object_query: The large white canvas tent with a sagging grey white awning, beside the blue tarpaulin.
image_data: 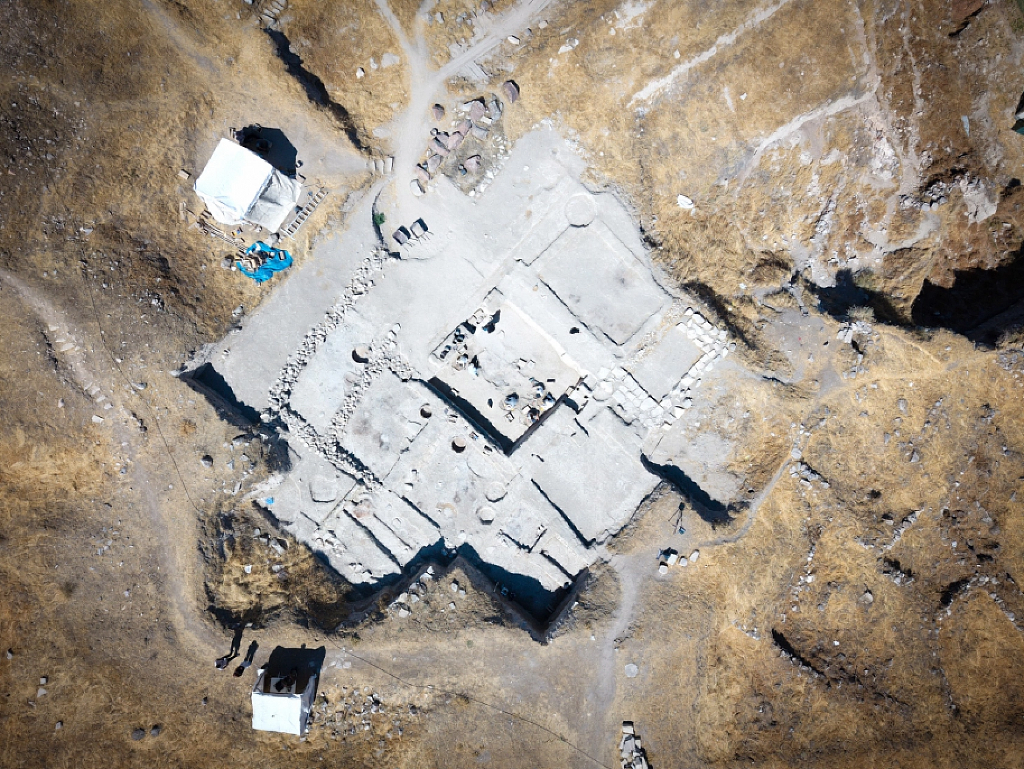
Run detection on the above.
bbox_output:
[195,138,307,235]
